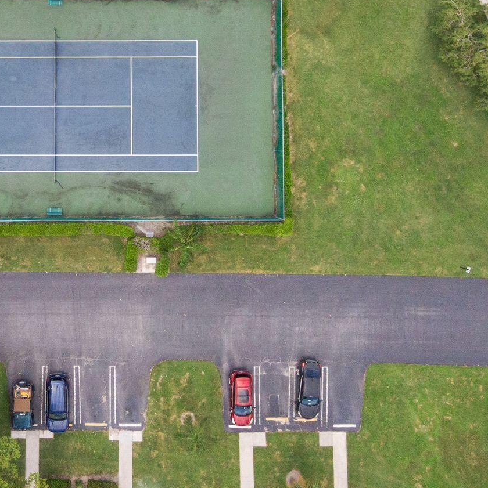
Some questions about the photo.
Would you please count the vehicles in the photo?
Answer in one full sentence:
Looking from above, you can make out 4 vehicles.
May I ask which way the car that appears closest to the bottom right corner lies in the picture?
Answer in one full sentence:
The car that appears closest to the bottom right corner is oriented up and down.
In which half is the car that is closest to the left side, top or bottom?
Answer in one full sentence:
The car that is closest to the left side sits in the bottom half of the picture.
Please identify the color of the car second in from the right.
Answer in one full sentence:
The car second in from the right looks red in the image.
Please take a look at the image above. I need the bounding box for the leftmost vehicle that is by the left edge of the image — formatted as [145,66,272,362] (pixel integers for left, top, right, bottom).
[12,383,34,430]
